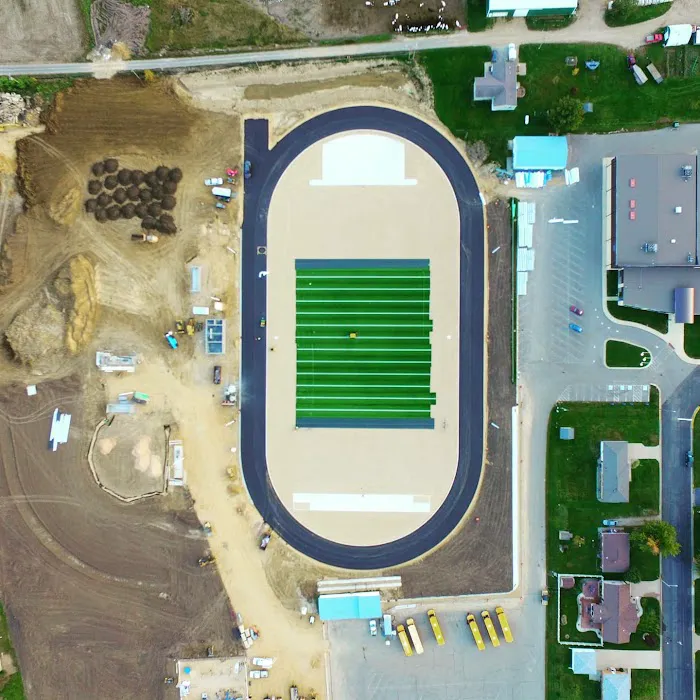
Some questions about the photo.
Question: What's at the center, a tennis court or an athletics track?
athletics track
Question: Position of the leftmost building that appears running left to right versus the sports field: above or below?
below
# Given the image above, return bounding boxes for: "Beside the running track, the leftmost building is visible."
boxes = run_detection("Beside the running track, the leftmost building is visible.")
[319,589,382,621]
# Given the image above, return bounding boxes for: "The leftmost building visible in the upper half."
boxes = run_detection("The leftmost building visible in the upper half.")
[474,59,517,108]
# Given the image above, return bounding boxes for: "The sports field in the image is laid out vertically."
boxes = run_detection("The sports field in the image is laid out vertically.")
[266,130,459,546]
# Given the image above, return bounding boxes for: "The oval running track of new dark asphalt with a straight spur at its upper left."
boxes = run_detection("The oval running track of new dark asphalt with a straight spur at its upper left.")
[241,106,483,569]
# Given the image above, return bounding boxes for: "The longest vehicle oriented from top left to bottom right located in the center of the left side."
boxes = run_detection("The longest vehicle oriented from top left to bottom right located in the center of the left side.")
[165,333,179,350]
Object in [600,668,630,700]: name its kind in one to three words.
house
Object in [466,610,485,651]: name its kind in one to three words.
vehicle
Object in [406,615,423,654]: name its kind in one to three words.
vehicle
